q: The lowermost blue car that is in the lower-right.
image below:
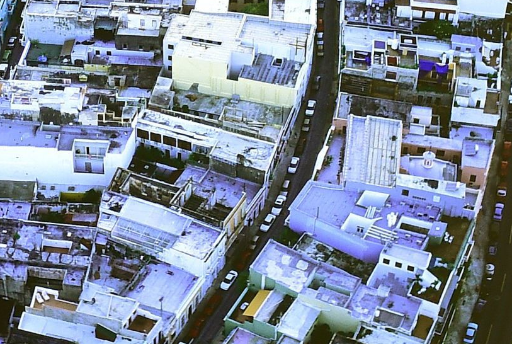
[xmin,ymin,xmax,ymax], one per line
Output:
[464,324,478,344]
